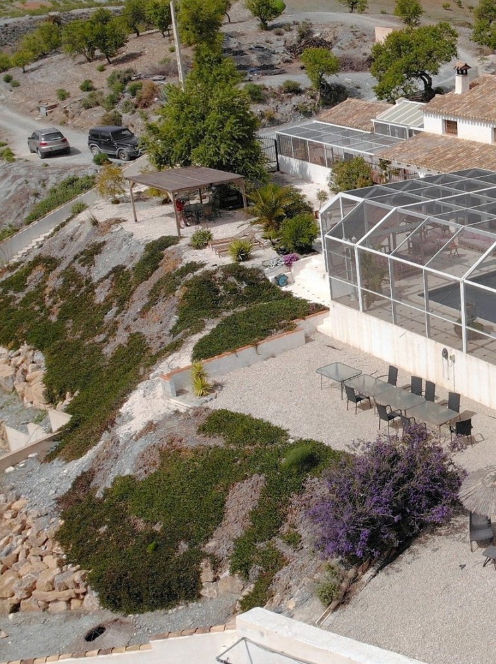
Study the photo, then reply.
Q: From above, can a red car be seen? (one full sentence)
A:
No, there appears to be no red car in this shot.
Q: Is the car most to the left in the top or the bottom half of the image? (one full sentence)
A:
The car most to the left sits in the top half of the picture.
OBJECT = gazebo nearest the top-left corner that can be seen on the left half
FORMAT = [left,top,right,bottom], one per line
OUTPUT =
[124,166,249,235]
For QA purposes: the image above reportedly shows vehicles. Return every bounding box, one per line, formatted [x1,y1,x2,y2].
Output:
[7,120,77,155]
[91,118,155,160]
